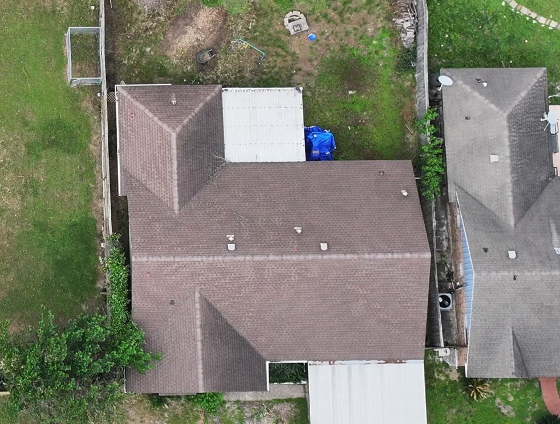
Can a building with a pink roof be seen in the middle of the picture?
No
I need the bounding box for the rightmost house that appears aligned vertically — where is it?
[431,66,560,378]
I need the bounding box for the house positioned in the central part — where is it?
[114,83,431,393]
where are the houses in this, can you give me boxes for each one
[431,66,560,378]
[114,83,431,393]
